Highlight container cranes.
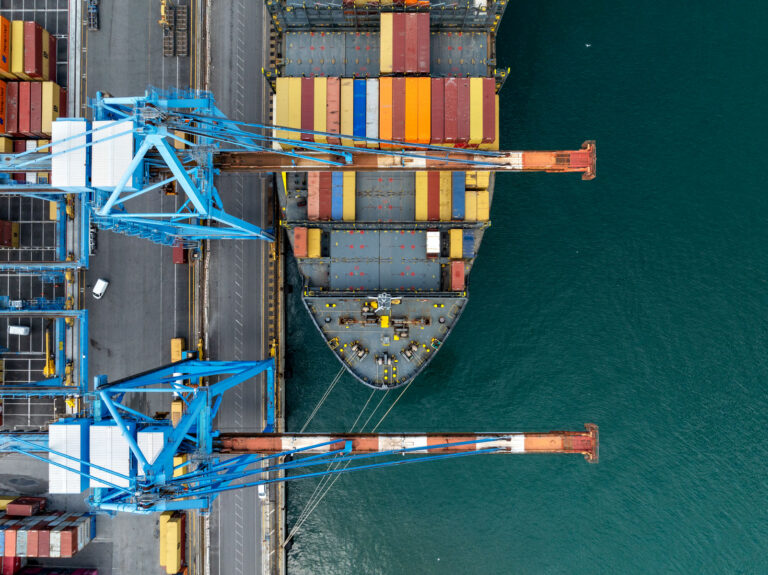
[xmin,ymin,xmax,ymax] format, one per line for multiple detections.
[0,333,596,523]
[0,291,92,397]
[0,177,92,285]
[0,87,596,262]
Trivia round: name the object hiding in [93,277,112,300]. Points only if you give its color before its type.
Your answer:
white vehicle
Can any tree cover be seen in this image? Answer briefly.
No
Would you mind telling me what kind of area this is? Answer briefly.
port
